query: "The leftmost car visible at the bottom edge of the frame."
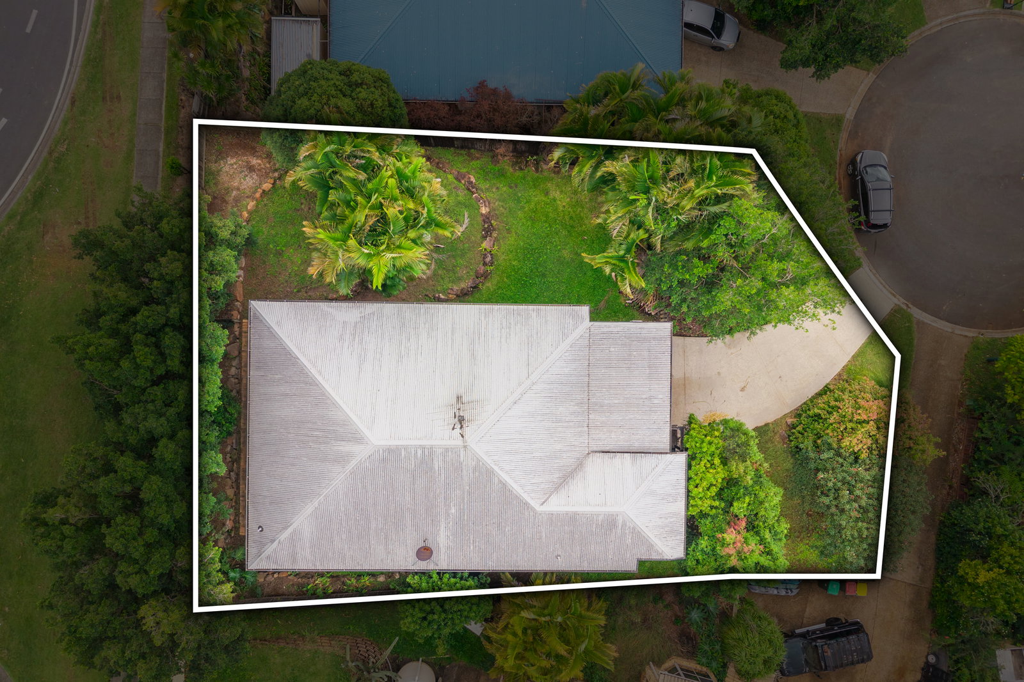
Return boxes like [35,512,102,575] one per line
[777,620,876,679]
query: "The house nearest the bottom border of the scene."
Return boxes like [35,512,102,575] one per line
[246,300,690,573]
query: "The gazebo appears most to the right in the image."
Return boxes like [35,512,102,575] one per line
[649,643,714,682]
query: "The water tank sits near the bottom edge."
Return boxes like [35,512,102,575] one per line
[399,654,438,682]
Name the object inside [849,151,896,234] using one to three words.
car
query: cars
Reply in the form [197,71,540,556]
[685,1,734,48]
[849,151,896,234]
[777,620,876,679]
